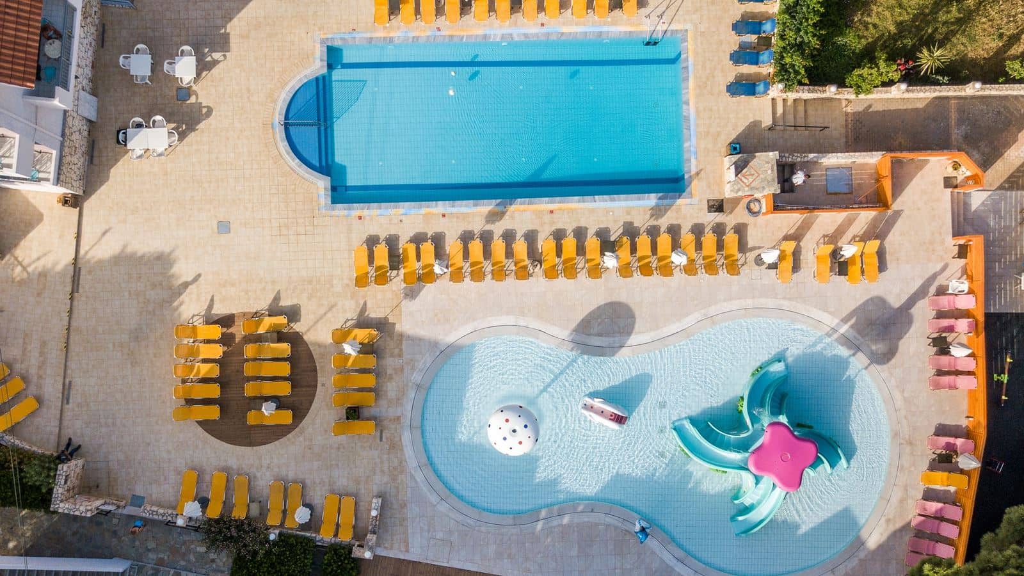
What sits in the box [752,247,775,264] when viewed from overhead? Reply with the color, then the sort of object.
white umbrella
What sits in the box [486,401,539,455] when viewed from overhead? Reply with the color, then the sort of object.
white fountain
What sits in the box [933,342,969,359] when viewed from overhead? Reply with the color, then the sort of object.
white umbrella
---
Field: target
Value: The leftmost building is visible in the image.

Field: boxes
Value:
[0,0,100,194]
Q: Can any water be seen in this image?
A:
Yes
